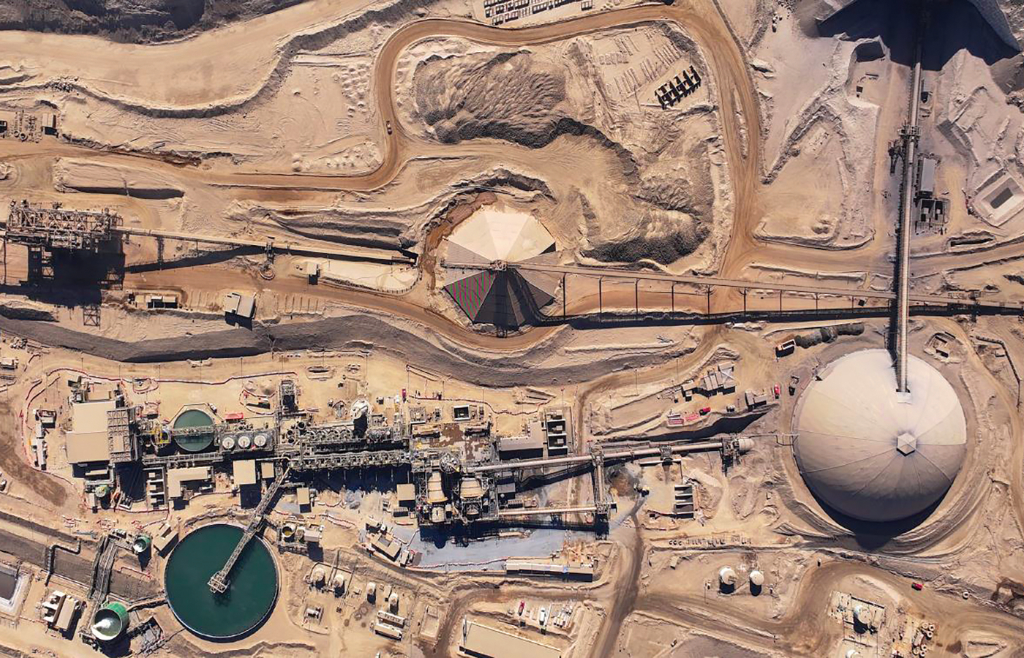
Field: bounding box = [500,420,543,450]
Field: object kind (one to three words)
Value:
building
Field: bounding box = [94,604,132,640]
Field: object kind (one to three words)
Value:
storage tank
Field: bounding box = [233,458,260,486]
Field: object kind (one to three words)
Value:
building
